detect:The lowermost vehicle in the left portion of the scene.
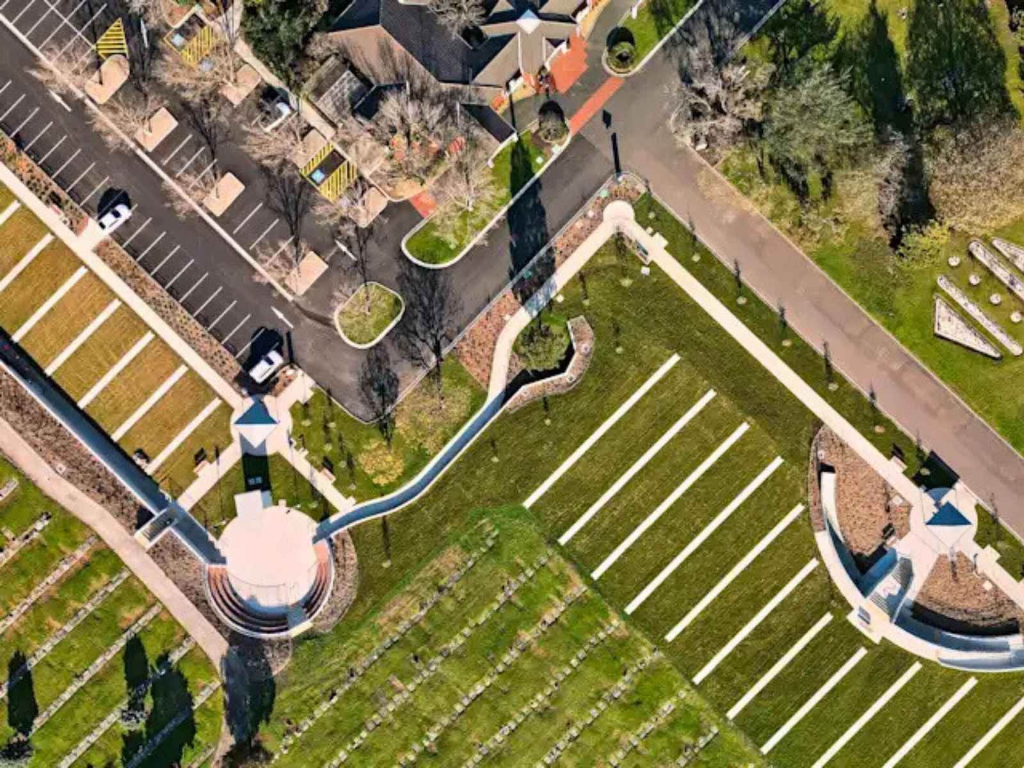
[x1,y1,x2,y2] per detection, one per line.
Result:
[245,349,284,384]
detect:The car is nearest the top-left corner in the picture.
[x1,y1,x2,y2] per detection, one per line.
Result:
[95,201,134,235]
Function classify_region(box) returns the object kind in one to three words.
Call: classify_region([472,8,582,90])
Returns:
building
